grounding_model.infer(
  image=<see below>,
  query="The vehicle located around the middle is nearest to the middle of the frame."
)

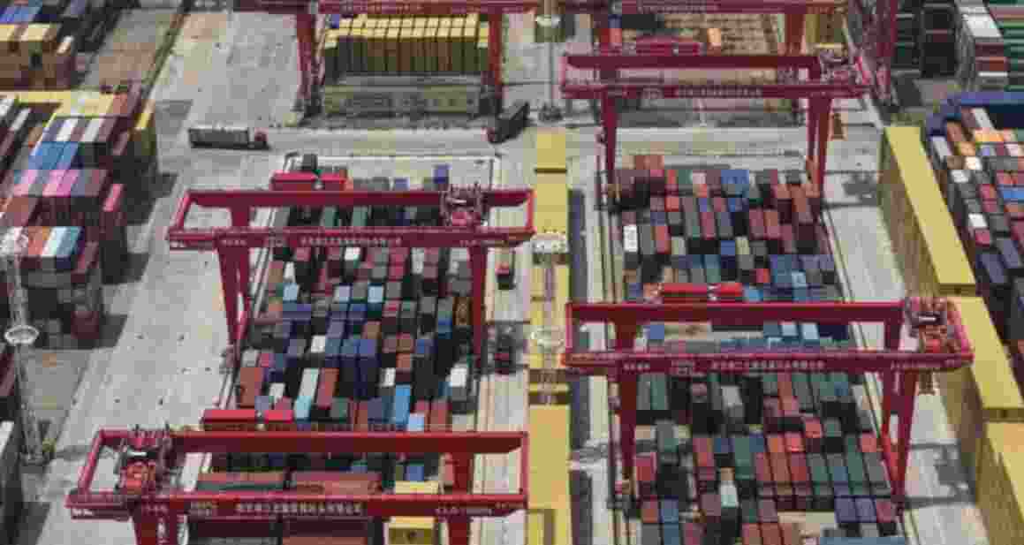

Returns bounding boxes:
[499,254,514,288]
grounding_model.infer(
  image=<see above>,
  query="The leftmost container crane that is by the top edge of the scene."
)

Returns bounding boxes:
[256,0,538,114]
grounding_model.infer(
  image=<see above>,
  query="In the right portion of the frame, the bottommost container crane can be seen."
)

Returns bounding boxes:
[562,277,974,513]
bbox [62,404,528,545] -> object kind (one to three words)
container crane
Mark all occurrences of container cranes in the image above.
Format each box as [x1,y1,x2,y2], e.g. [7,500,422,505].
[562,277,974,513]
[858,0,1024,104]
[560,35,875,214]
[167,162,534,371]
[560,0,841,112]
[256,0,538,114]
[62,404,528,545]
